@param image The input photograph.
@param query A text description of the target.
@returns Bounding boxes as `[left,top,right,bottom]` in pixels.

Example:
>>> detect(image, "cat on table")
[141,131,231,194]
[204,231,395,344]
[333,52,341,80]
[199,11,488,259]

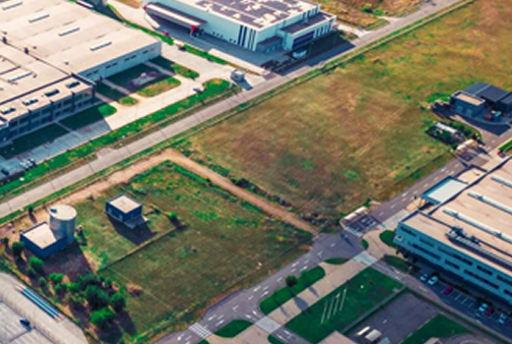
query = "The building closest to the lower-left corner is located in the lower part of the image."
[20,222,65,257]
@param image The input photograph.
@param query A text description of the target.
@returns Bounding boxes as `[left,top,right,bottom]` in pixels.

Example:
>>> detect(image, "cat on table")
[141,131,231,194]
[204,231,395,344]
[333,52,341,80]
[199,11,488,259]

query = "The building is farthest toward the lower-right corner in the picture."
[392,154,512,301]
